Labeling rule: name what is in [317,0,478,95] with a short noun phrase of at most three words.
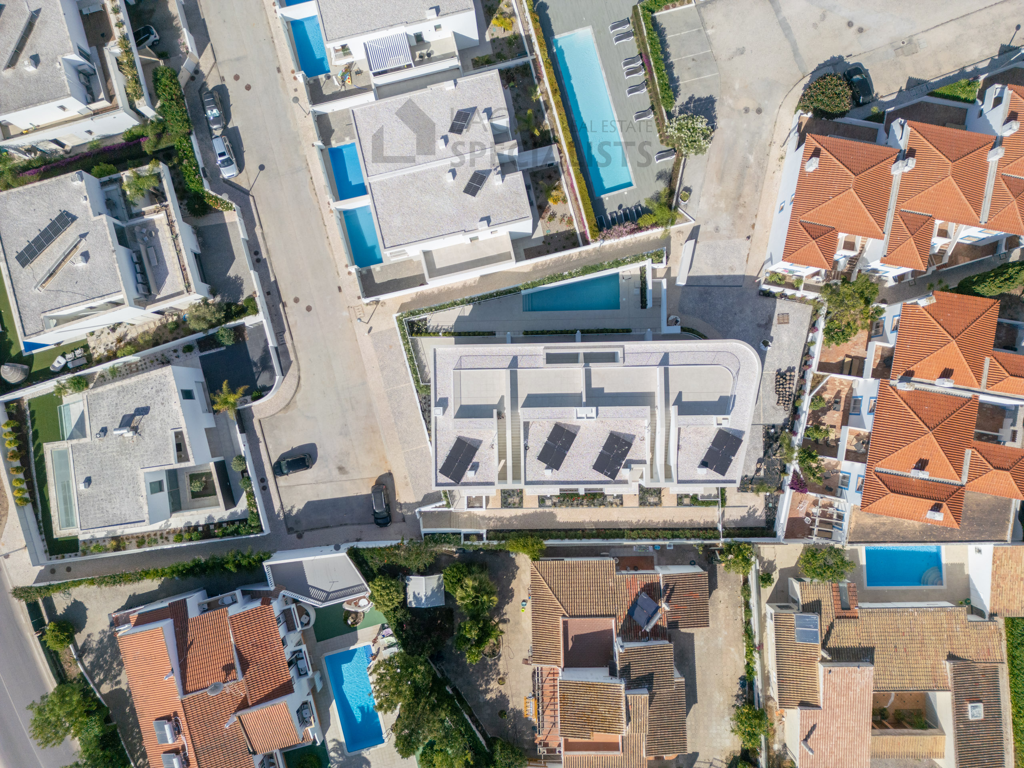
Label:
house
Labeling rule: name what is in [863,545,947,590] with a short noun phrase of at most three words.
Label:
swimming pool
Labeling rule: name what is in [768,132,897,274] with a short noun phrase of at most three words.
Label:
house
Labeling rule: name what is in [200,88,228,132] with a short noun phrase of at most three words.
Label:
car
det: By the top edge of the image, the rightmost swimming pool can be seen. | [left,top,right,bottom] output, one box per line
[548,22,638,200]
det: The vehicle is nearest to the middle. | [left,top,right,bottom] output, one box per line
[370,484,393,528]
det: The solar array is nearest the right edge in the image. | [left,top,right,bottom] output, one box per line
[795,614,819,643]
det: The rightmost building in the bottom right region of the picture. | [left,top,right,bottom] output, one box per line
[969,539,1024,617]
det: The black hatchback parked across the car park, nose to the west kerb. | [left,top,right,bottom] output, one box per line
[272,453,314,478]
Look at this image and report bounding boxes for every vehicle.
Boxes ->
[200,88,228,132]
[272,453,314,478]
[124,27,163,57]
[846,64,876,105]
[210,132,242,180]
[370,484,393,528]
